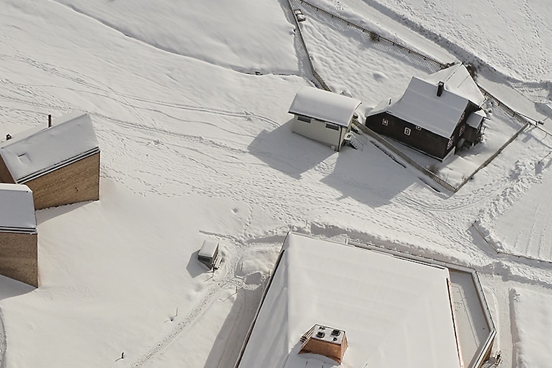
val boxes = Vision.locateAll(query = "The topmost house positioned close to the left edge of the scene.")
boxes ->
[0,110,100,212]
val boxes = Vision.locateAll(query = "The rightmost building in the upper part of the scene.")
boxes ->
[362,60,489,163]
